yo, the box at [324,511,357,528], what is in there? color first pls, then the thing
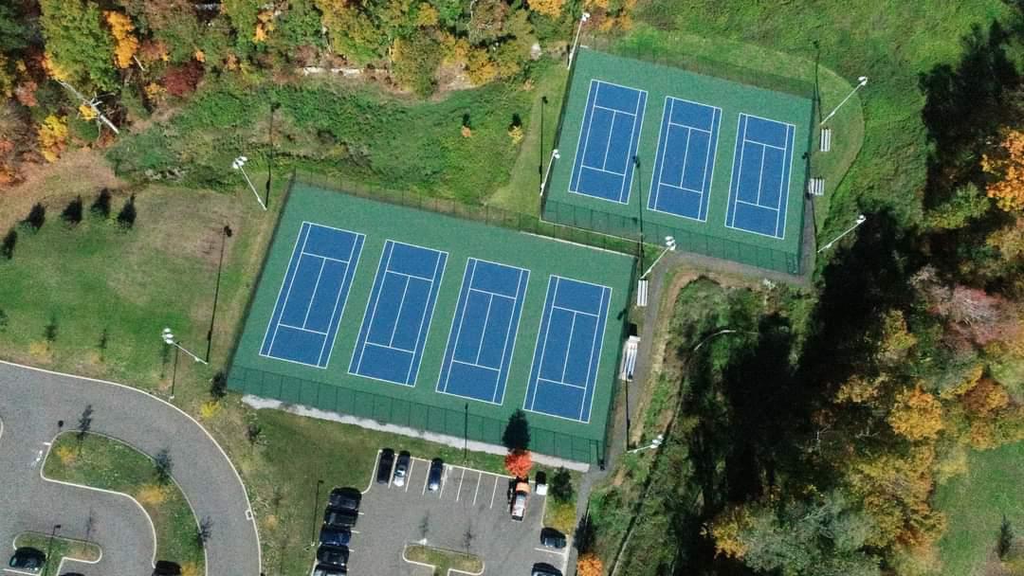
black car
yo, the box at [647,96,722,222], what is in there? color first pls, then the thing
blue tennis court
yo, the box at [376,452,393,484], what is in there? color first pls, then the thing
black car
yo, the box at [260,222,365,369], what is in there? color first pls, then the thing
blue tennis court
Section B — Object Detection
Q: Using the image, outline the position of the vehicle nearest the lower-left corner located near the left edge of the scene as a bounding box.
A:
[9,551,42,568]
